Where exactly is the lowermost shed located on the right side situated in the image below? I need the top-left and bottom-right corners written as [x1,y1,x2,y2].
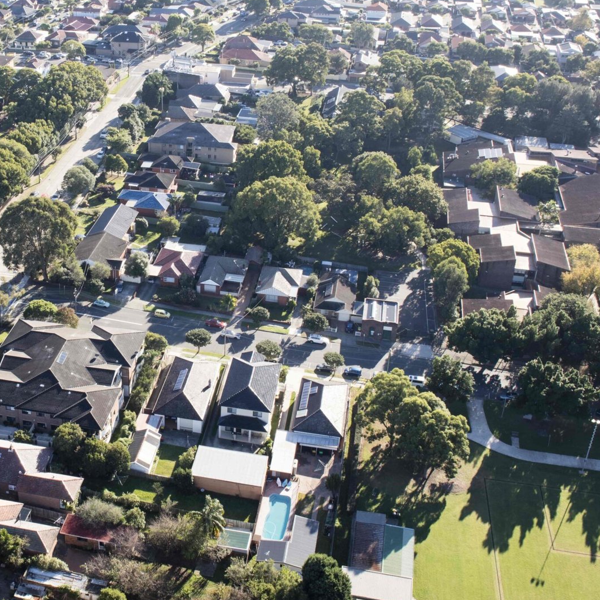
[348,564,413,600]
